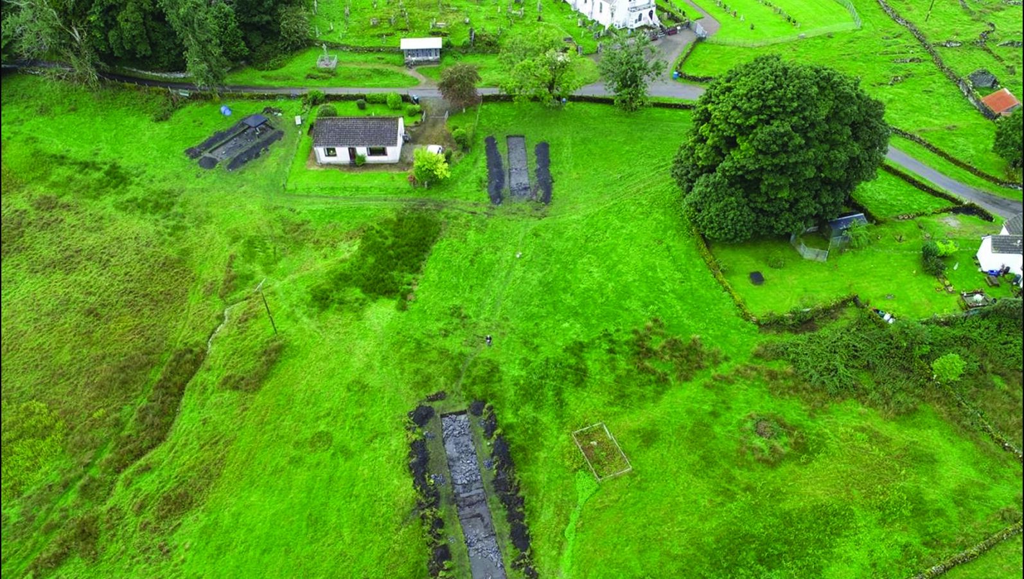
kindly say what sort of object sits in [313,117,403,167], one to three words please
house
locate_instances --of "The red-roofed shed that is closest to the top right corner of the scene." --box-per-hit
[978,88,1021,122]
